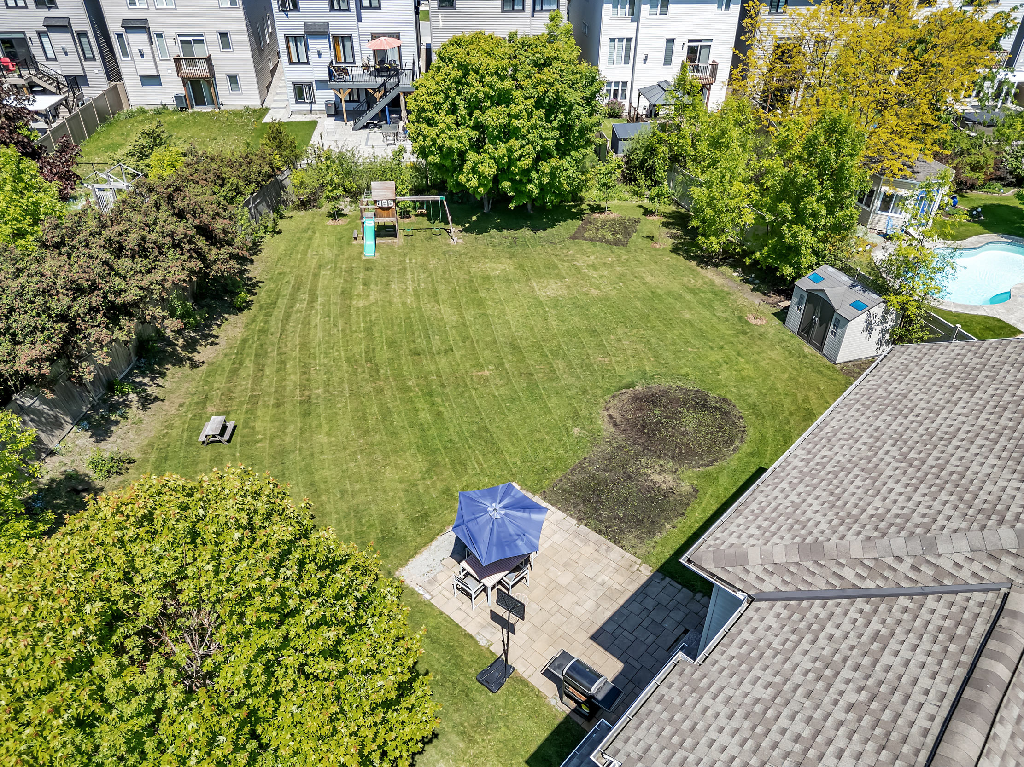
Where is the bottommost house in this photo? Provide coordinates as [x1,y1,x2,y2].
[551,341,1024,767]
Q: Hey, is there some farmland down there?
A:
No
